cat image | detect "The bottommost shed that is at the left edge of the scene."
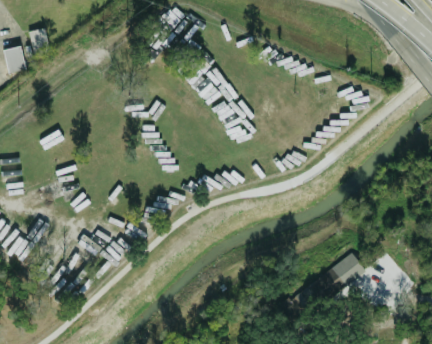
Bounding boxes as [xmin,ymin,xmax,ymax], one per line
[4,46,28,74]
